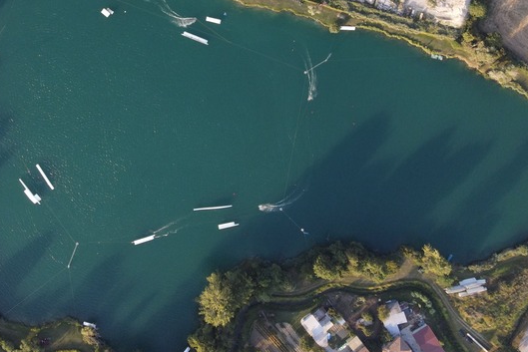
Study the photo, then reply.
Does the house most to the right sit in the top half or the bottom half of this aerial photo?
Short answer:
bottom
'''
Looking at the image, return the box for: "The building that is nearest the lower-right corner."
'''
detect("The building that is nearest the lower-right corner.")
[410,322,444,352]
